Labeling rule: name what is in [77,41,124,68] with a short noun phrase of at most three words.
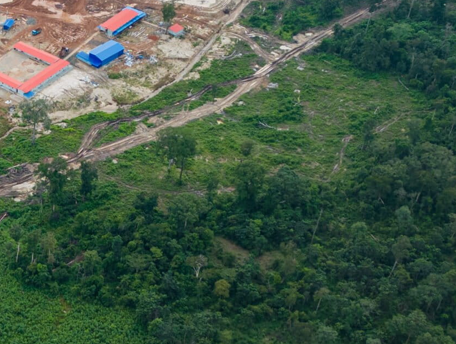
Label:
barn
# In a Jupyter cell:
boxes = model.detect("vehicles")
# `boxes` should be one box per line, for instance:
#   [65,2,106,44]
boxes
[59,46,70,57]
[26,27,43,36]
